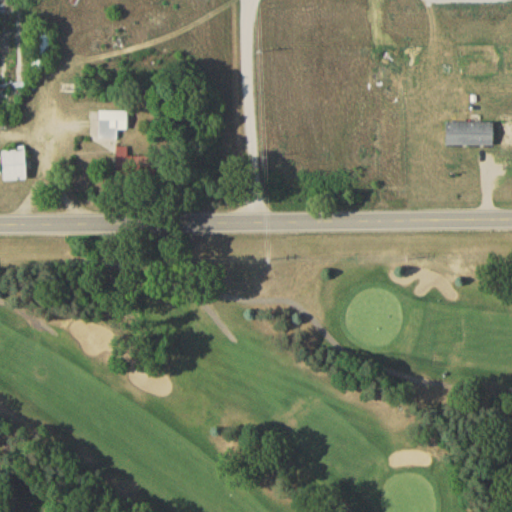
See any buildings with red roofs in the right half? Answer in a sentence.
No, I can find no building with a red roof in the right half.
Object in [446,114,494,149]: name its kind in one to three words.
house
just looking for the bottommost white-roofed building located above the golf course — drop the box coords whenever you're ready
[1,144,26,182]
